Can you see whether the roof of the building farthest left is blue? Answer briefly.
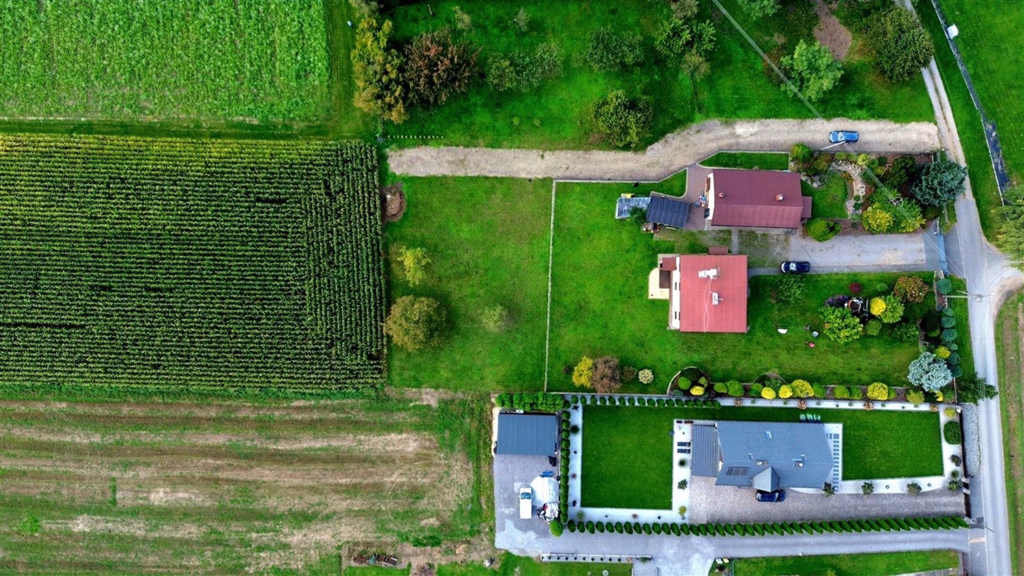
Yes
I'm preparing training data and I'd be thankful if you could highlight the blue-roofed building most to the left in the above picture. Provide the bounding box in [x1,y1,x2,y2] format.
[497,412,556,455]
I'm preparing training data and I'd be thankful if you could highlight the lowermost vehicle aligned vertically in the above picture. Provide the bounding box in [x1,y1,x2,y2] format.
[518,484,533,519]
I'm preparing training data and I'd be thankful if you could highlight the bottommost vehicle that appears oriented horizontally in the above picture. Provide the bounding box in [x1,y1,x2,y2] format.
[755,489,785,504]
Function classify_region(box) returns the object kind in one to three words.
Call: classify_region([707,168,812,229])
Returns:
house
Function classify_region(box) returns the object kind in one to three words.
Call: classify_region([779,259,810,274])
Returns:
car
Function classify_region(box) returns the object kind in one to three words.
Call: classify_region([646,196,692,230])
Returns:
shed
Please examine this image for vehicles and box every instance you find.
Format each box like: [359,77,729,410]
[827,129,859,144]
[518,484,533,519]
[755,489,785,504]
[779,259,810,274]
